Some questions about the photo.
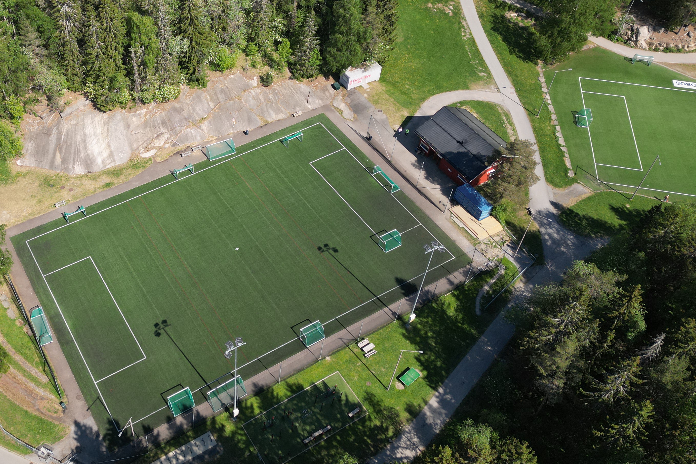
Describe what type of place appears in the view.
sports ground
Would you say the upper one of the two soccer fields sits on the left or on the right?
right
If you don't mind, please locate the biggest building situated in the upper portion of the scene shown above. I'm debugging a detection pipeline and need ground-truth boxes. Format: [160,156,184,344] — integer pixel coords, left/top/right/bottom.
[411,104,520,184]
